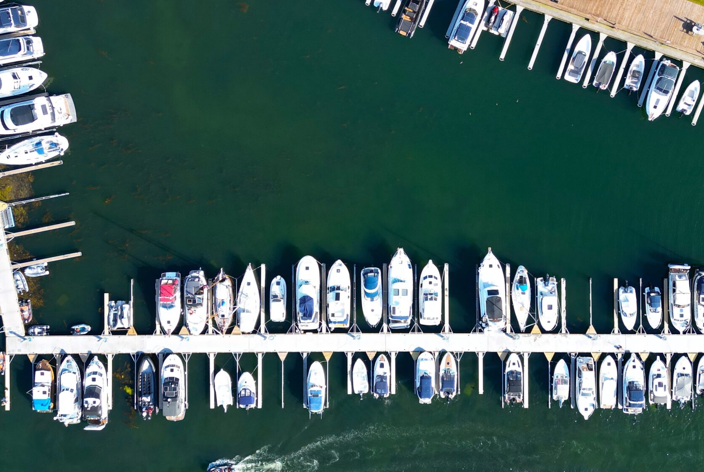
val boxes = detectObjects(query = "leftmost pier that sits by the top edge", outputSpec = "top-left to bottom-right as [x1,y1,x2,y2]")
[484,3,515,39]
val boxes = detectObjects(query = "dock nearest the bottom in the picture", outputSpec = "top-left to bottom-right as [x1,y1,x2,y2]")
[6,334,704,354]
